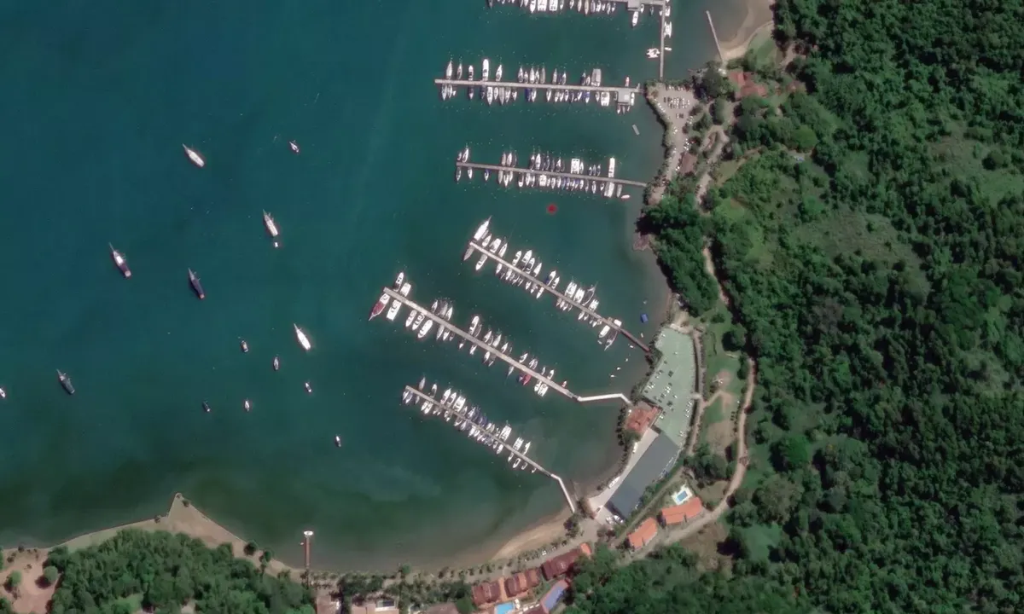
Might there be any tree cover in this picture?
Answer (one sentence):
Yes, tree cover shows up in the scene.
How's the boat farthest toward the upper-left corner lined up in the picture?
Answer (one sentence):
In this picture, the boat farthest toward the upper-left corner is oriented at an angle.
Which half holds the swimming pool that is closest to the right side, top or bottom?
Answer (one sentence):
It is in the bottom half that the swimming pool that is closest to the right side appears.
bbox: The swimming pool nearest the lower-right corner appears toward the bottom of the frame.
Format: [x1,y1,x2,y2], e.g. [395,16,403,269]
[672,484,692,504]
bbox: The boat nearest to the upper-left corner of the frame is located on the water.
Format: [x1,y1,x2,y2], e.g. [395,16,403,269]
[183,144,204,166]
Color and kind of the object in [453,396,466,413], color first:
white boat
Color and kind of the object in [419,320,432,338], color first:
white boat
